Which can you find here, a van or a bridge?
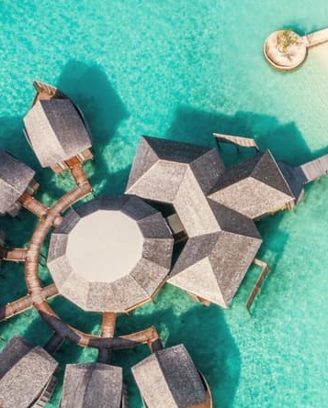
bridge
